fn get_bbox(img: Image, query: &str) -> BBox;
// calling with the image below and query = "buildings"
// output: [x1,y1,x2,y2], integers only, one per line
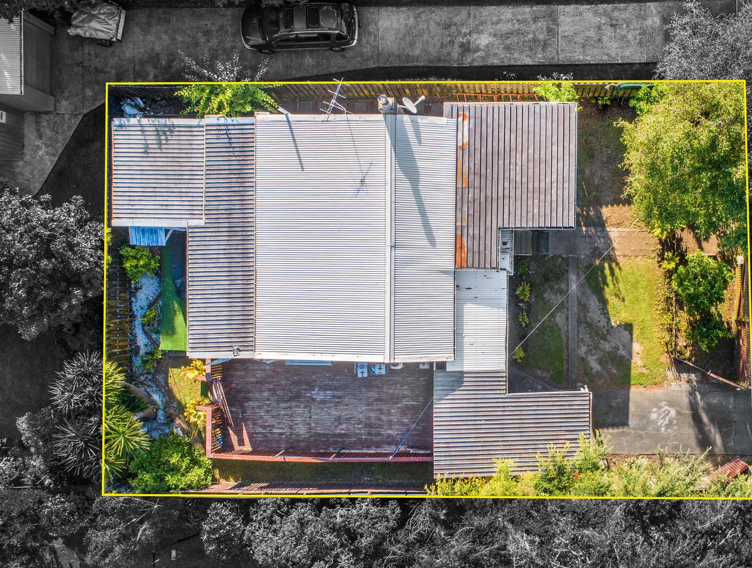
[0,9,56,175]
[111,90,579,370]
